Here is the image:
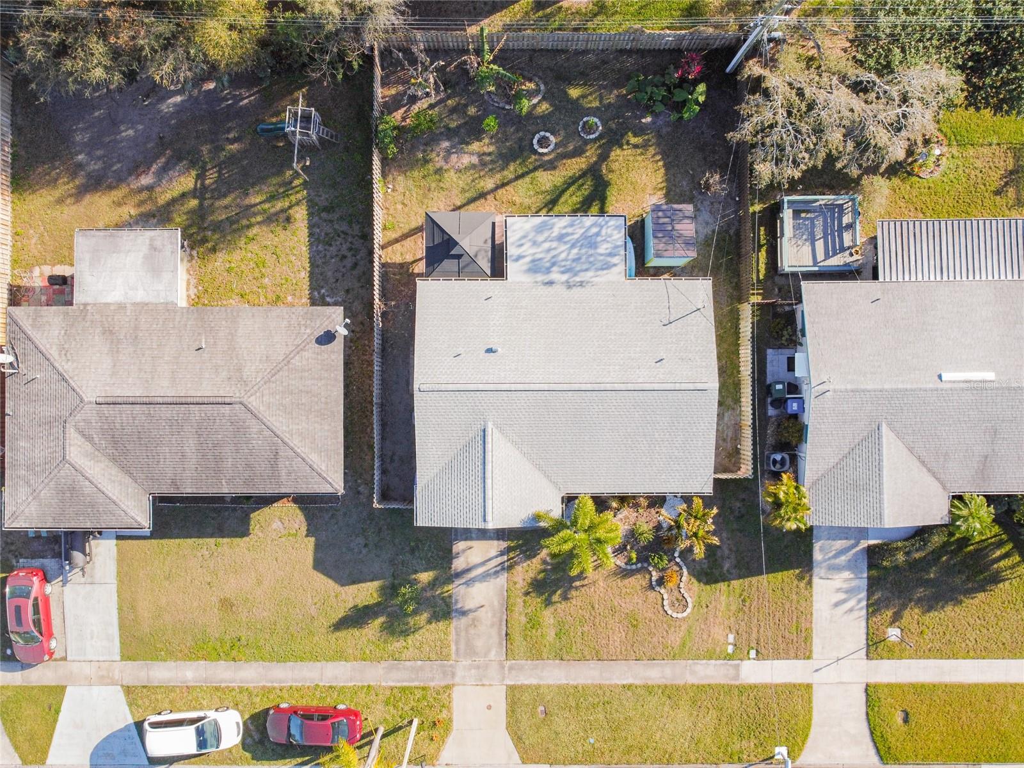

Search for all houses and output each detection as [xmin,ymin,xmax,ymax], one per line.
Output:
[793,218,1024,526]
[4,228,347,532]
[412,213,719,530]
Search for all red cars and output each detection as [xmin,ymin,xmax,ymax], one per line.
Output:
[6,570,61,662]
[269,703,361,753]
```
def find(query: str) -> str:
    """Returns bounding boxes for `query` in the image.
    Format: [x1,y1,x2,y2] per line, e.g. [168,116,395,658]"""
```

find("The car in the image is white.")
[142,706,243,760]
